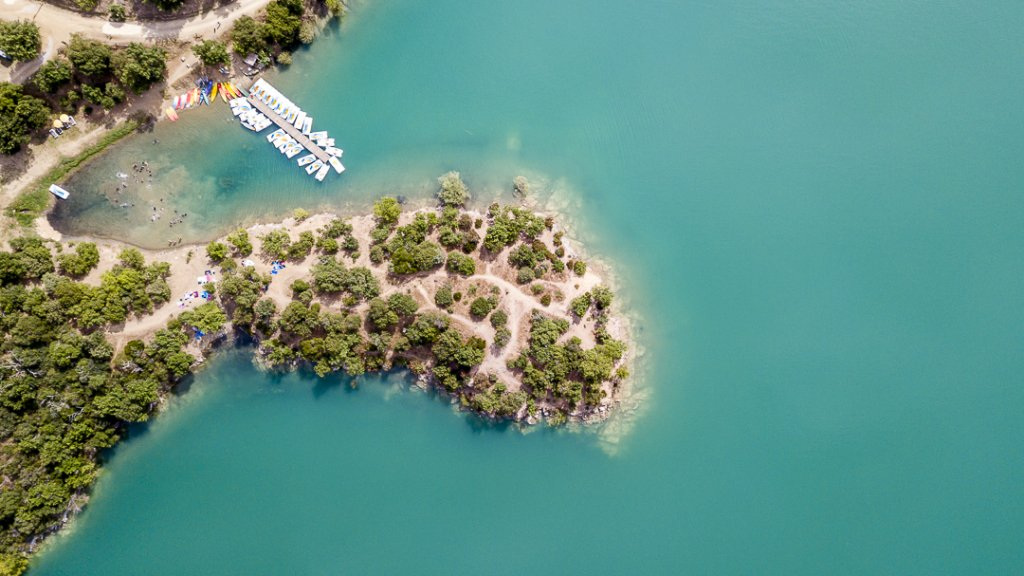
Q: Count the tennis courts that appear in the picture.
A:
0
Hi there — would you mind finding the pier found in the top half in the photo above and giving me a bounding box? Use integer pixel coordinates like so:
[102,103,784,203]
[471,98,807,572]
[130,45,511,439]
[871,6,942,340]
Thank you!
[245,92,330,162]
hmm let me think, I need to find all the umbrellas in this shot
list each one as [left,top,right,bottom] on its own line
[53,119,65,128]
[60,113,70,123]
